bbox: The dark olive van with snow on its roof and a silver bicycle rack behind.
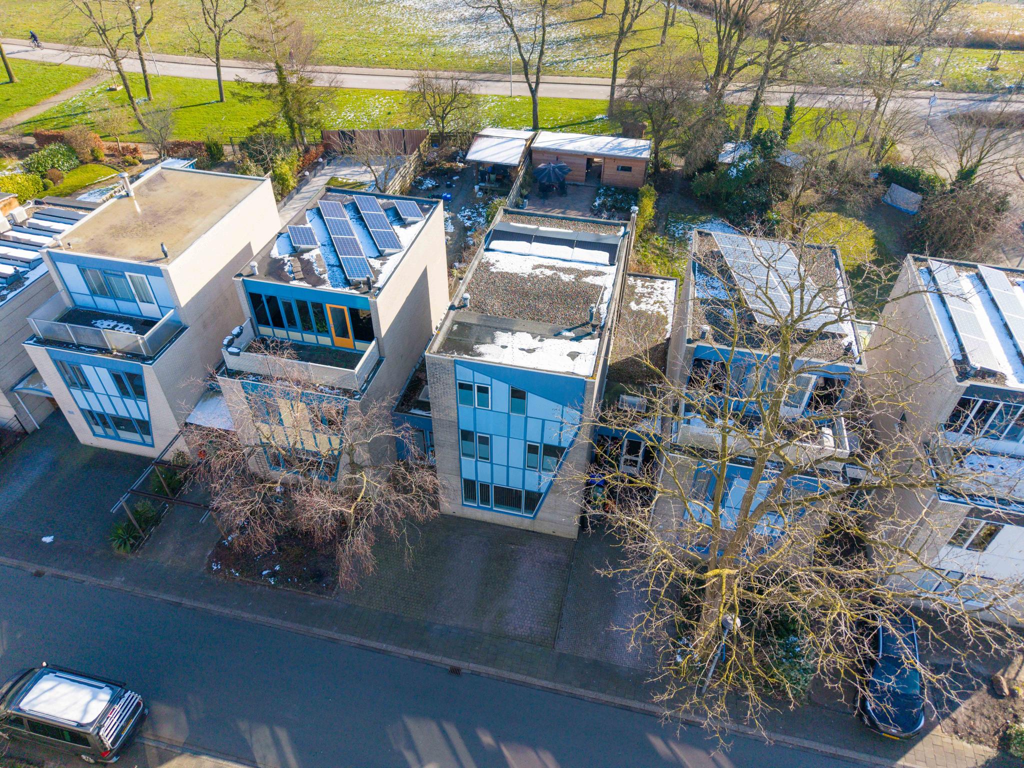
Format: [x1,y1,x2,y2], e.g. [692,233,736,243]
[0,660,154,765]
